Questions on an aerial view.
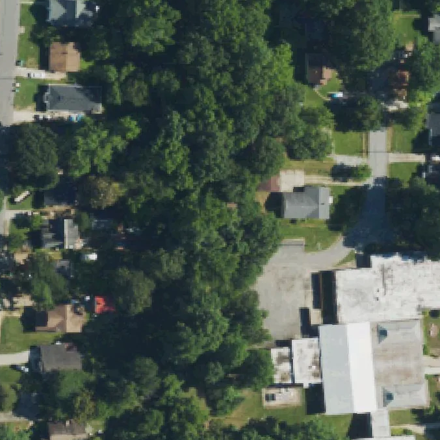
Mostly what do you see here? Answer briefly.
trees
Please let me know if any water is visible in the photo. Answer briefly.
No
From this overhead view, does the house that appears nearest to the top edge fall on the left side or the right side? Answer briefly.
left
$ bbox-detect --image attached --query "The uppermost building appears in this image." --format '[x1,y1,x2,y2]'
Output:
[49,0,92,24]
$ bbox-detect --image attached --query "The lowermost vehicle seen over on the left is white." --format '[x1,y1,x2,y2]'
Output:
[13,188,29,202]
